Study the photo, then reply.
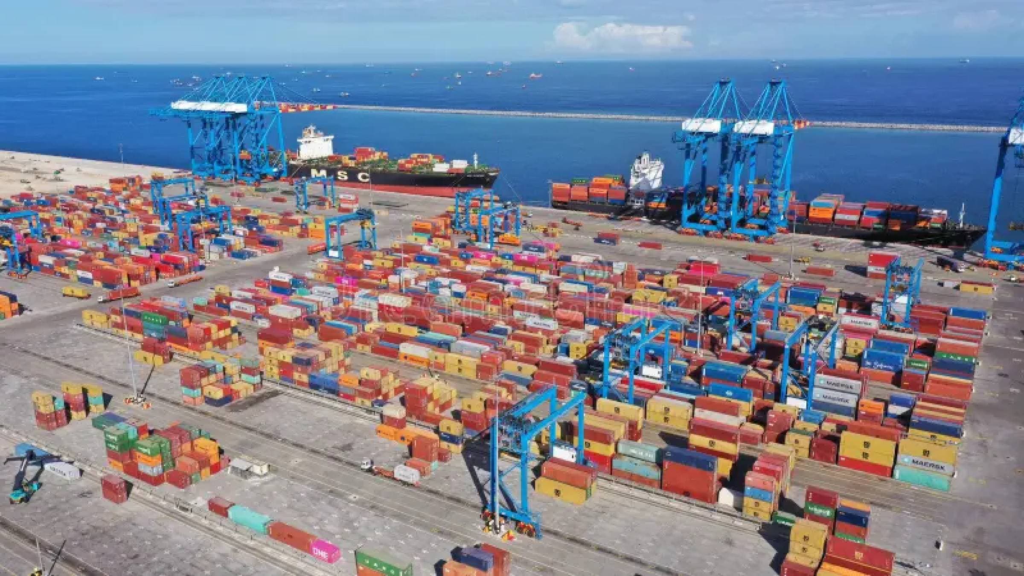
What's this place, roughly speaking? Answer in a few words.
port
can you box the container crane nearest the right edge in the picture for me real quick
[986,116,1024,267]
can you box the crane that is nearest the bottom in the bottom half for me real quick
[480,375,593,523]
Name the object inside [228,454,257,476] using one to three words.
shed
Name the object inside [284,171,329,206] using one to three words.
container crane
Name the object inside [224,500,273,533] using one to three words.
shipping container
